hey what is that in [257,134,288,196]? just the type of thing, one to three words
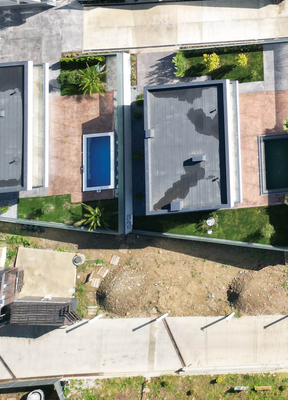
swimming pool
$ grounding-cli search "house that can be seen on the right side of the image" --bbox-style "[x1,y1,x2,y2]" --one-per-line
[143,80,242,215]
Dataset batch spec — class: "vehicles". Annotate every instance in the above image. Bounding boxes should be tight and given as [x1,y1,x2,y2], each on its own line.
[25,377,57,400]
